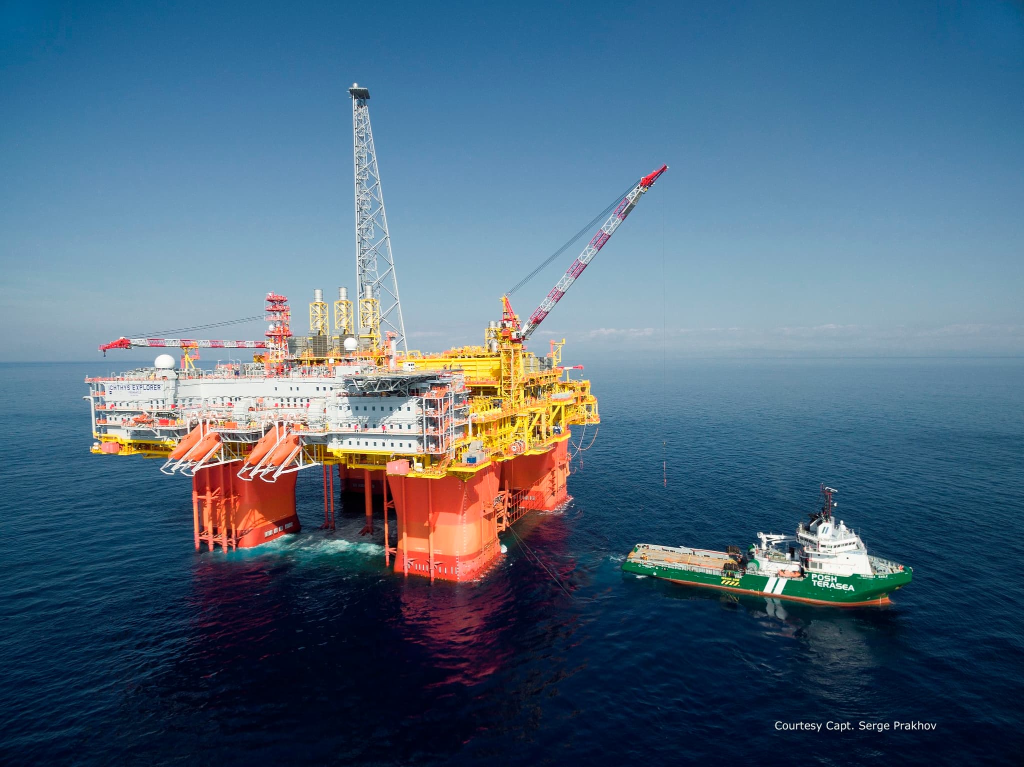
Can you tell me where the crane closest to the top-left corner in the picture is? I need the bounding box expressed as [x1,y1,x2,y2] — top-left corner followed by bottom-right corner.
[95,309,285,367]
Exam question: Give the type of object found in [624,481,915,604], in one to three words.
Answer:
ship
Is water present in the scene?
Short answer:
Yes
